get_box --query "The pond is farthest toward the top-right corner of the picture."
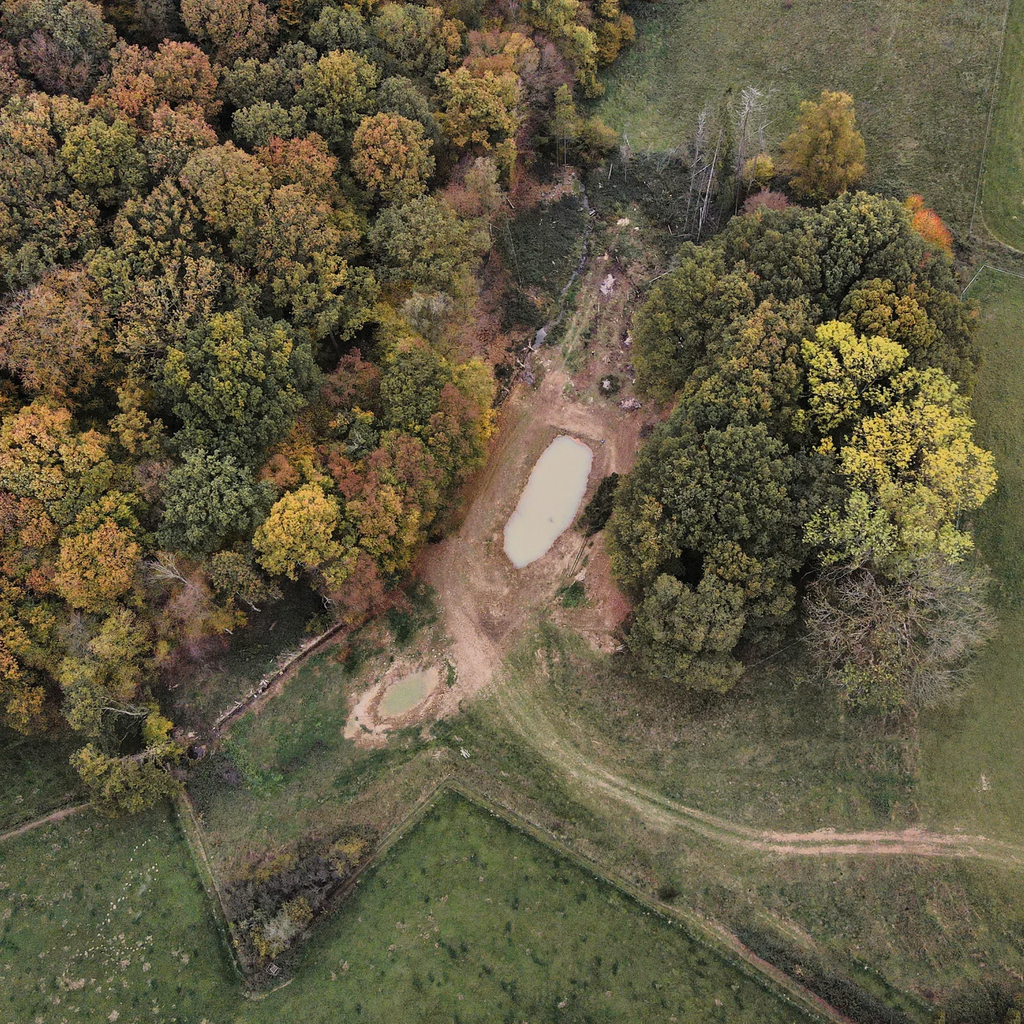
[502,437,593,570]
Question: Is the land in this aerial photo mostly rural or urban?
rural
